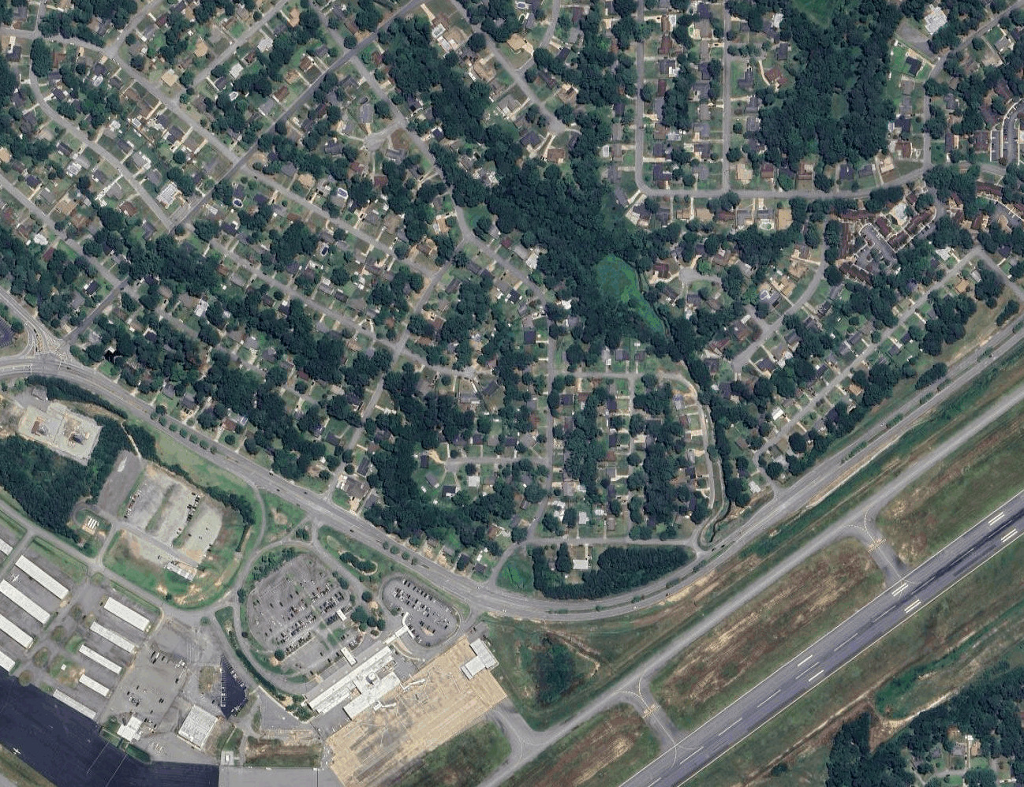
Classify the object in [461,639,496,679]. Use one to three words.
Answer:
building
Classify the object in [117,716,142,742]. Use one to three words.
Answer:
building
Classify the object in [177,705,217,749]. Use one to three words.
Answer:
hangar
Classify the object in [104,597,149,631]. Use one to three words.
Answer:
hangar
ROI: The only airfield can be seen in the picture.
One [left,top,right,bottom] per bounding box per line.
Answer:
[0,384,1024,787]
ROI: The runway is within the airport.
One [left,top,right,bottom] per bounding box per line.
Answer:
[617,487,1024,787]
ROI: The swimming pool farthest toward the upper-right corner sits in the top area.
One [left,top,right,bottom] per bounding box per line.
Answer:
[893,203,910,223]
